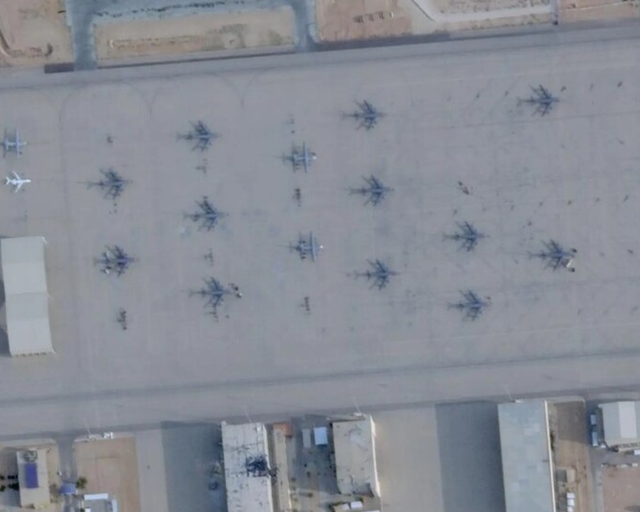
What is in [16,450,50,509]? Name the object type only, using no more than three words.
building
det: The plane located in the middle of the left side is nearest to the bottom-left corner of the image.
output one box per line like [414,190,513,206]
[104,246,138,276]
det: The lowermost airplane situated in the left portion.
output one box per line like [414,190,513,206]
[199,277,233,308]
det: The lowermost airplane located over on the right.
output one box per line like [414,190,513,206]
[457,290,492,322]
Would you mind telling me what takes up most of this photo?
paved ground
